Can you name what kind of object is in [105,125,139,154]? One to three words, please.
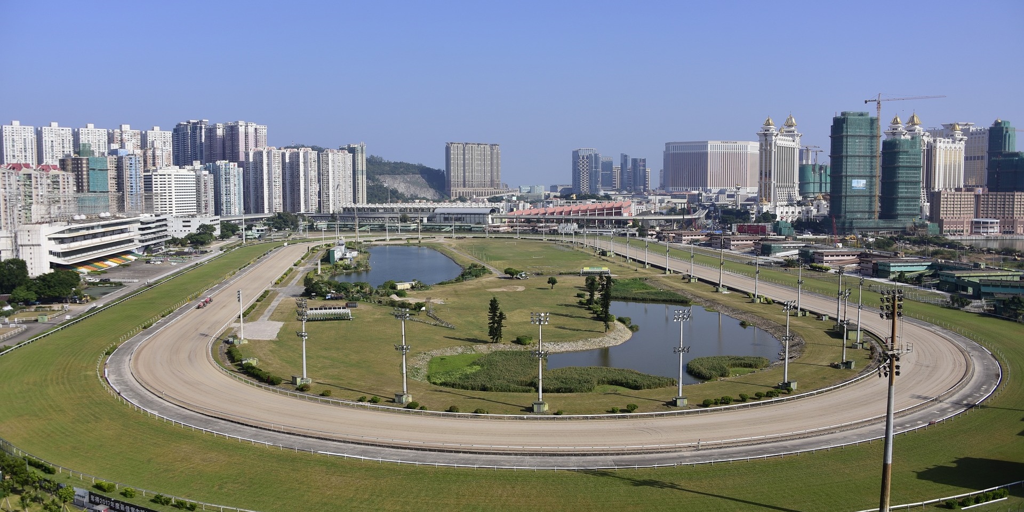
building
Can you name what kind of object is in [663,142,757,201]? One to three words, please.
building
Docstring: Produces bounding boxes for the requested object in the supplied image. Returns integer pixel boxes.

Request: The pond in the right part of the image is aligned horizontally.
[540,281,783,388]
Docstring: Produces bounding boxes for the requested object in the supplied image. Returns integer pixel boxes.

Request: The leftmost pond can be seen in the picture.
[329,245,463,289]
